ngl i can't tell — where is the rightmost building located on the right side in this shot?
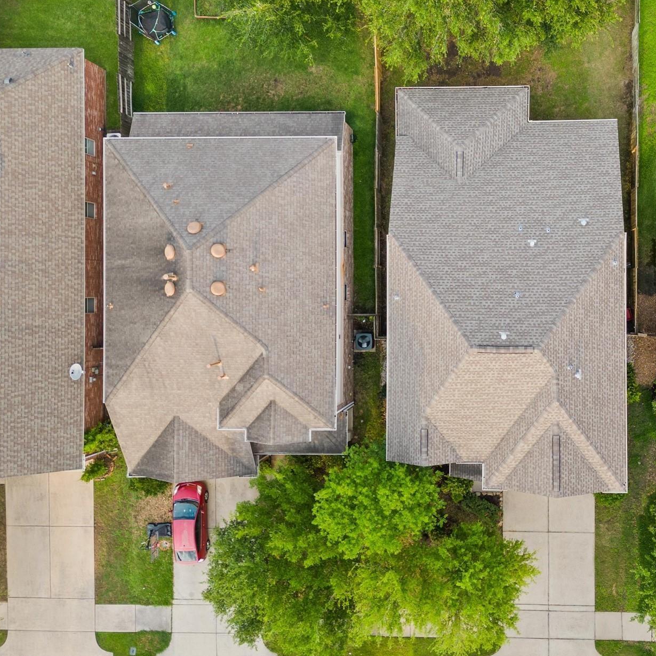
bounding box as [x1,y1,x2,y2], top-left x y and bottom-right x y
[385,84,629,502]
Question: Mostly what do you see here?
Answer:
buildings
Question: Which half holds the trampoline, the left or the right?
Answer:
left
